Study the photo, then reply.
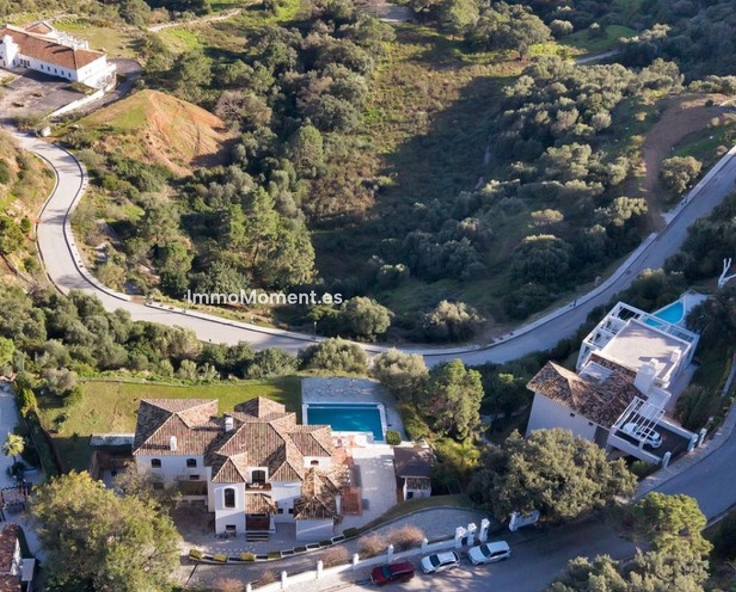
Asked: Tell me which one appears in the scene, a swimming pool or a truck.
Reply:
swimming pool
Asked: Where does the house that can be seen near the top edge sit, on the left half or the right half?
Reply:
left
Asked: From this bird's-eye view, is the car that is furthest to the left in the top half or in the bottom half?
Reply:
bottom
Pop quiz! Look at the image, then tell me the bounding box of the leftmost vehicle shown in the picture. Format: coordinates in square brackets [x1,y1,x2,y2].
[371,555,418,583]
